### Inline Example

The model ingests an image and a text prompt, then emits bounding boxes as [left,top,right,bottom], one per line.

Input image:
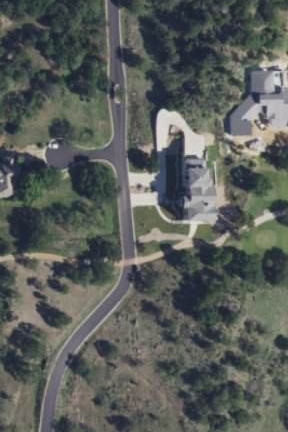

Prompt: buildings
[230,71,288,136]
[0,156,14,198]
[184,160,218,223]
